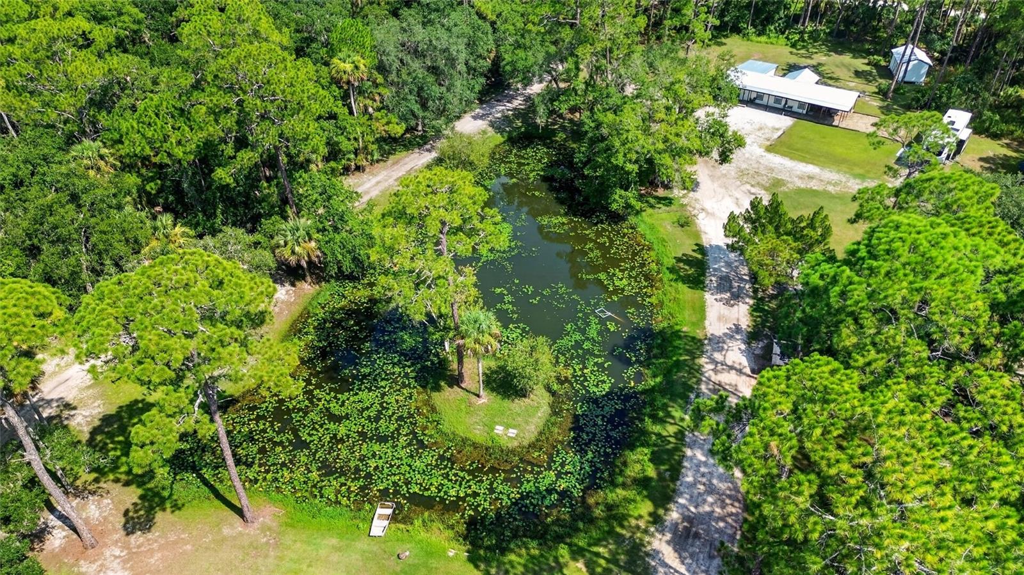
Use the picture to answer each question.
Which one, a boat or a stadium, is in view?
boat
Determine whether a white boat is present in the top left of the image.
No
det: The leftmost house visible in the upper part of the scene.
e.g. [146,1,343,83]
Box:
[717,61,865,130]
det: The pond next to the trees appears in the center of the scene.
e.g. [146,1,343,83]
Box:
[191,129,660,546]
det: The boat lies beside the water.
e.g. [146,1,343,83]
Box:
[369,499,393,536]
